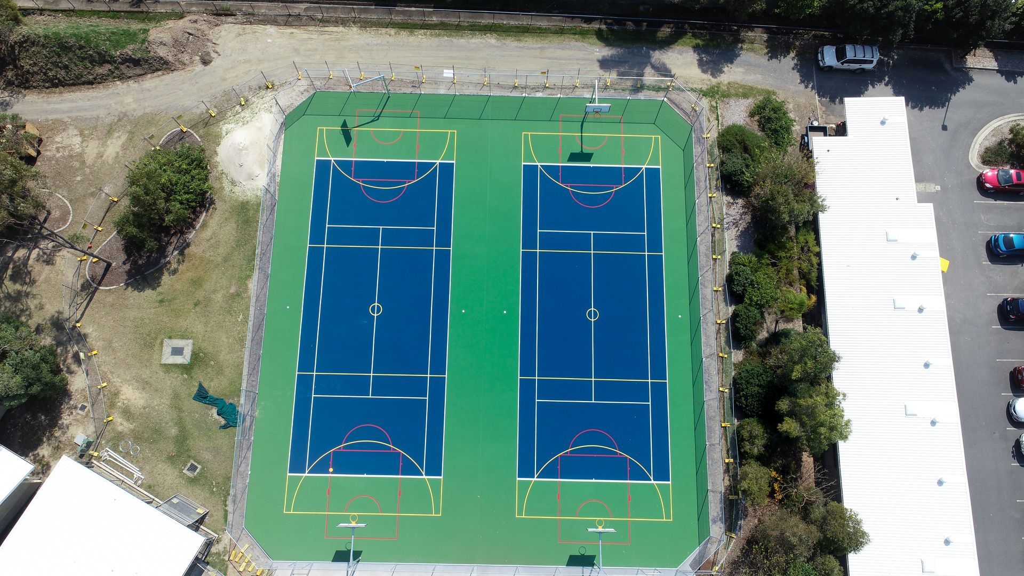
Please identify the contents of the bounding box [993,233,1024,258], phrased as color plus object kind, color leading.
blue car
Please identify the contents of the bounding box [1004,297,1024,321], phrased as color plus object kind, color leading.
black car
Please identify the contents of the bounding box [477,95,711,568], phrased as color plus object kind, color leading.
green sports court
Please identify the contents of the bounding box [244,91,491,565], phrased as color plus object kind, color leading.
green sports court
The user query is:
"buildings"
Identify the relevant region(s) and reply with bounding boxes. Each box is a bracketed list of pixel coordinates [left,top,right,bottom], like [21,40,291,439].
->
[0,454,232,576]
[803,95,980,576]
